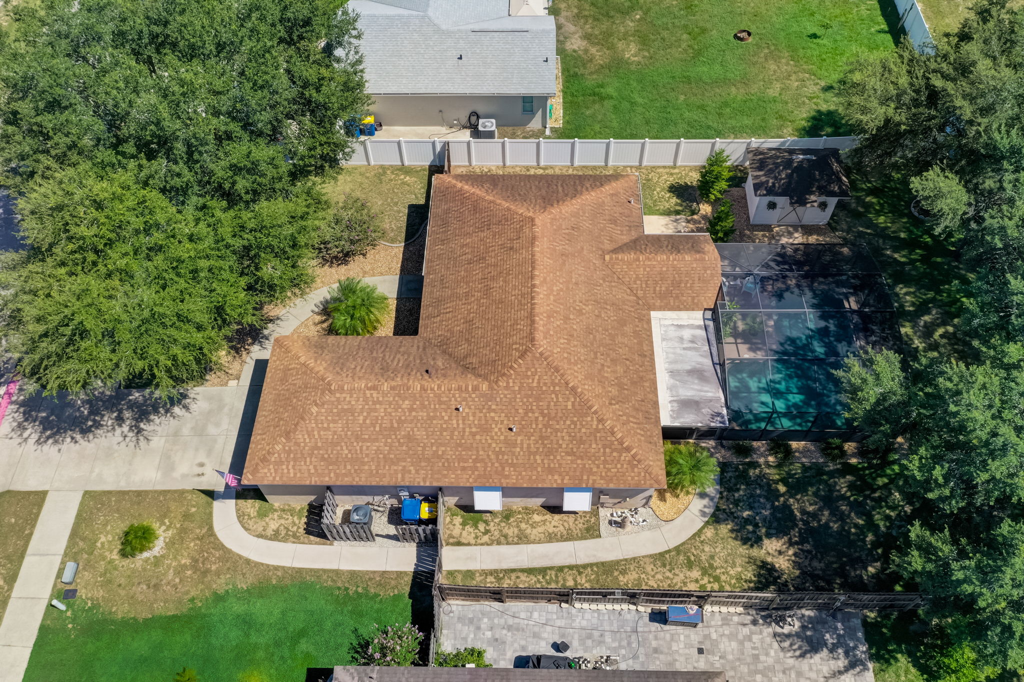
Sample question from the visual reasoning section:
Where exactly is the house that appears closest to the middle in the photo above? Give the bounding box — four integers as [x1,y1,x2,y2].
[241,172,731,512]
